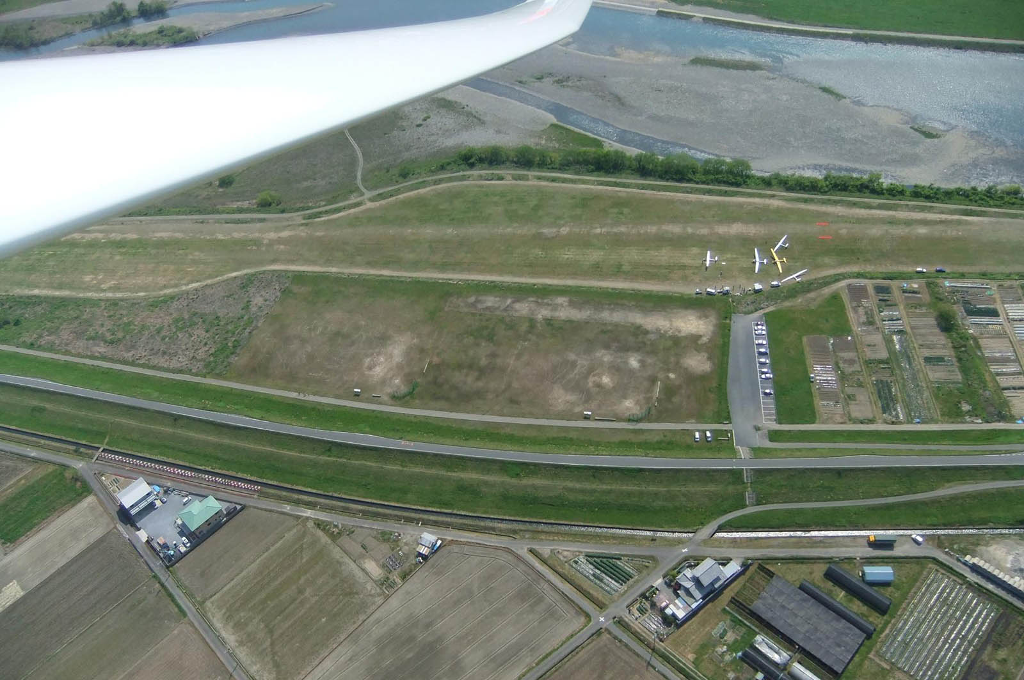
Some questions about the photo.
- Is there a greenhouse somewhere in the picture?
Yes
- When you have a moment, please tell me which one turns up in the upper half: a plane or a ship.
plane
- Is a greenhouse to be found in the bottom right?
Yes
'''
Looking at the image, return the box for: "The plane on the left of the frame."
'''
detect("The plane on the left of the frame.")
[0,0,600,259]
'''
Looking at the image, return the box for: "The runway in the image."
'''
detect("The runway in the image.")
[0,179,1024,299]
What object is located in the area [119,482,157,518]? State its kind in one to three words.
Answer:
building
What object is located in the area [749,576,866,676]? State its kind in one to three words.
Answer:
house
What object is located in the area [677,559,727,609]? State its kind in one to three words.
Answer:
house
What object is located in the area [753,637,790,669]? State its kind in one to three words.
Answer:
greenhouse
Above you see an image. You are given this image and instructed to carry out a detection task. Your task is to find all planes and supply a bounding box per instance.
[770,248,786,272]
[0,0,600,259]
[752,248,767,272]
[776,234,788,253]
[780,271,809,280]
[702,251,718,266]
